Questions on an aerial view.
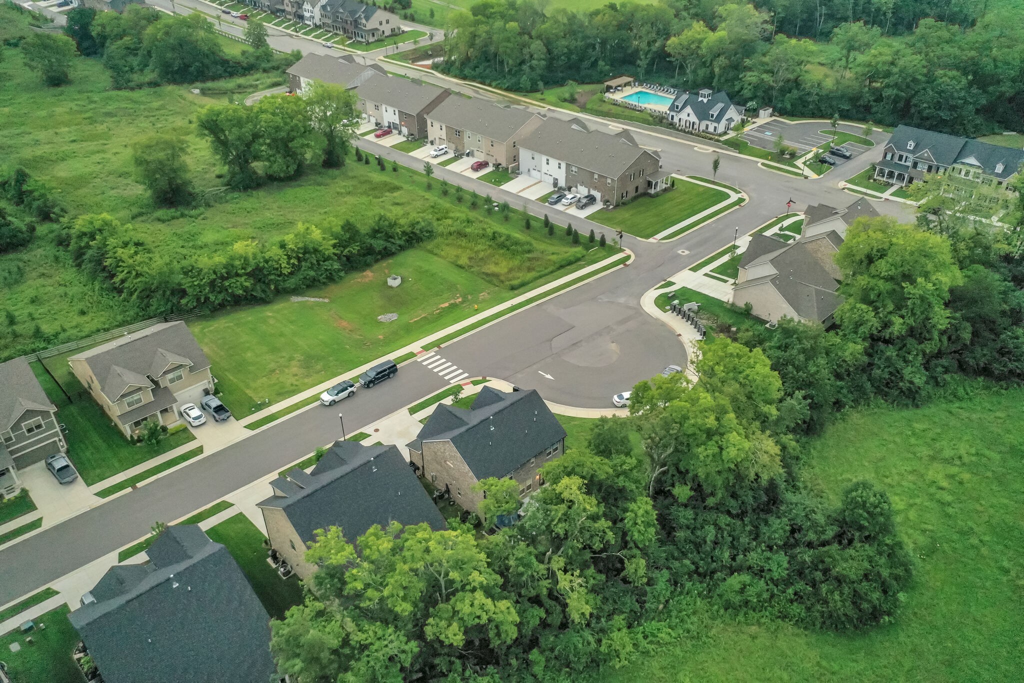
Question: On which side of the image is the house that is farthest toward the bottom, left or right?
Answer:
left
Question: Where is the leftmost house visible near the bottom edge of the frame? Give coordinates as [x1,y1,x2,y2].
[64,522,284,683]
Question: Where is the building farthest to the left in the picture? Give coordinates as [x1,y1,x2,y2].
[0,349,66,496]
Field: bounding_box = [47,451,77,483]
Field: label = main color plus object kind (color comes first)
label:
gray truck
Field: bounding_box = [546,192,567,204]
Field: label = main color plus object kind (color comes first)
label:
gray vehicle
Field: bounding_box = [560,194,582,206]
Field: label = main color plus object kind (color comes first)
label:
white vehicle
